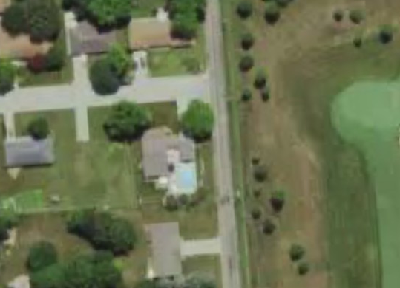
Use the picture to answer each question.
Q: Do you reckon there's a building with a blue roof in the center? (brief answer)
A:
No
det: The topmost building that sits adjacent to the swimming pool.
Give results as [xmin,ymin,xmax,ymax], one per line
[140,123,194,176]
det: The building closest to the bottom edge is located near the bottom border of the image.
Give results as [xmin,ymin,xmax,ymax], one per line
[150,222,179,279]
